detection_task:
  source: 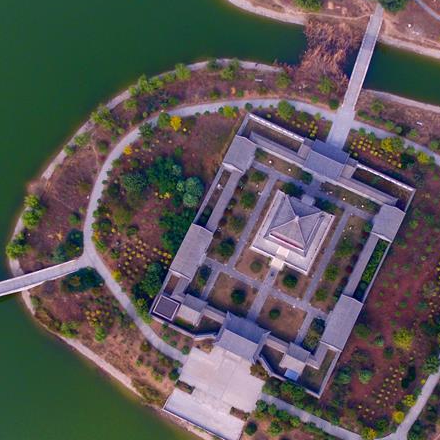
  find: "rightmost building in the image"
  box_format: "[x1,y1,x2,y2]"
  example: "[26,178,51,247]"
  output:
[371,204,405,244]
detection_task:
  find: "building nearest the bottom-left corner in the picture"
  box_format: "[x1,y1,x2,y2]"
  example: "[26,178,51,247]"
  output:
[153,296,179,321]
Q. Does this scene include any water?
Yes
